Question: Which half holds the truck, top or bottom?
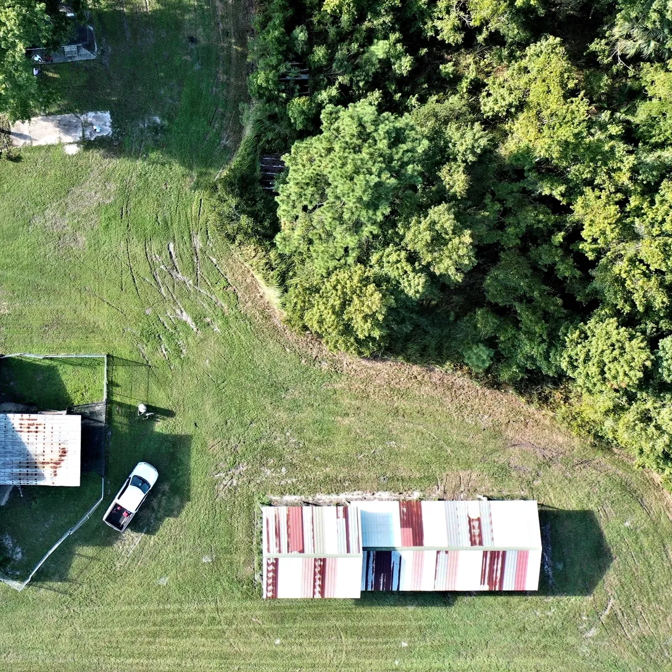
bottom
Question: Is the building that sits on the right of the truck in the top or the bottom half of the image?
bottom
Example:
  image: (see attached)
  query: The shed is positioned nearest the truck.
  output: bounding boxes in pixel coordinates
[0,409,83,485]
